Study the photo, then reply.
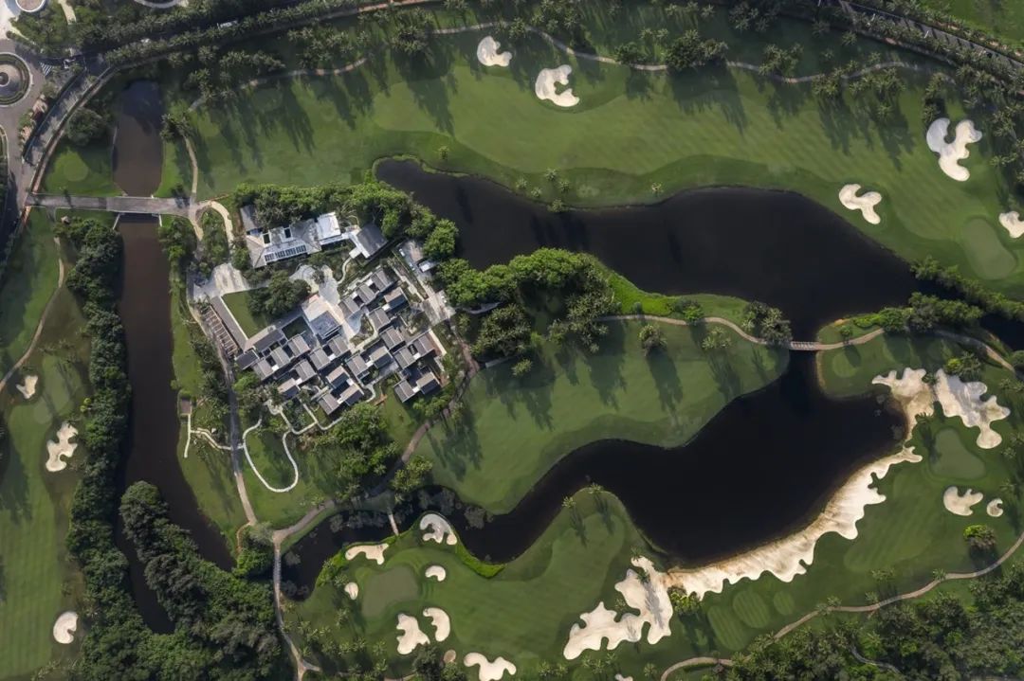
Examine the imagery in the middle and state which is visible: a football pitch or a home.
home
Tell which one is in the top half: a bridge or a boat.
bridge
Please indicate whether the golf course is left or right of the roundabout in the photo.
to its right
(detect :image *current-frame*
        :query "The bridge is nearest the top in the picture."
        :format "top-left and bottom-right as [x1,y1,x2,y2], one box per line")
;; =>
[104,191,172,230]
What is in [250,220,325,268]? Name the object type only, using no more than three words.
building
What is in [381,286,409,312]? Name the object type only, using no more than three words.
house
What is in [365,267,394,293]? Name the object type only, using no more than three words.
house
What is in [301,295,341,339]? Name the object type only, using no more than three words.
building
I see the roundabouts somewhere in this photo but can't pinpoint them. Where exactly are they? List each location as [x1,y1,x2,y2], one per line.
[0,46,33,109]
